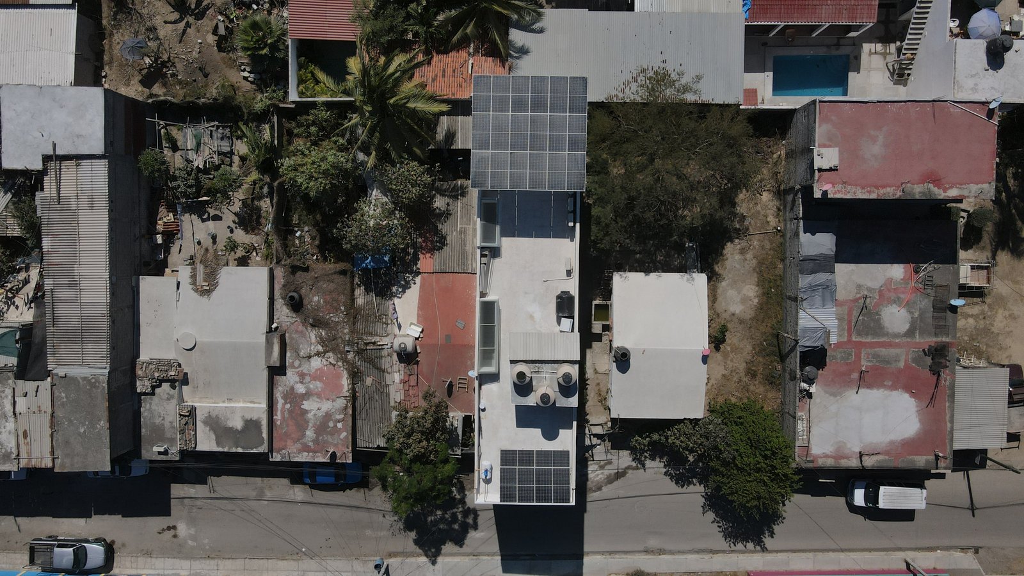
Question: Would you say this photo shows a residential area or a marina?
residential area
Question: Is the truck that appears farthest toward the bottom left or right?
left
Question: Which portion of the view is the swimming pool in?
top right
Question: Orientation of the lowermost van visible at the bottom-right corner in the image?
from side to side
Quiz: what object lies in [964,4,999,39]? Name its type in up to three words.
umbrella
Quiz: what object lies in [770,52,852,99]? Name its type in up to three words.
swimming pool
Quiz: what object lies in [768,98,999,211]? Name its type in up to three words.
house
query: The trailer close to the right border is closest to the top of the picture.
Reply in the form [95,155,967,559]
[958,259,1001,290]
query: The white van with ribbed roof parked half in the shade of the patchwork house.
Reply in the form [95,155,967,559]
[843,475,932,512]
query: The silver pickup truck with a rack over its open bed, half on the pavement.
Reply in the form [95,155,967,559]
[24,538,113,573]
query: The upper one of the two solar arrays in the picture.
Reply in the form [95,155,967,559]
[471,76,586,194]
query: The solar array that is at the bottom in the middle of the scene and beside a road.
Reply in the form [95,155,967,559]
[500,450,574,503]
